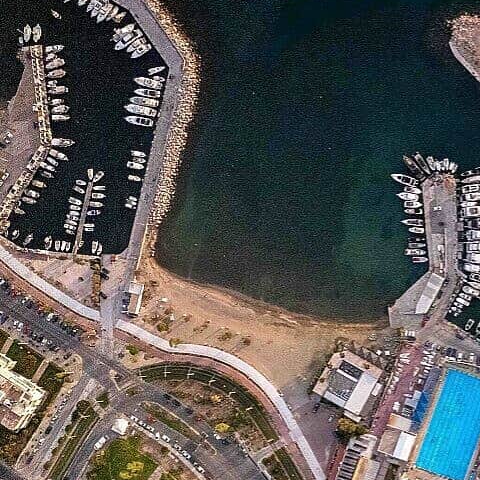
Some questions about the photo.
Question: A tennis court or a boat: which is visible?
boat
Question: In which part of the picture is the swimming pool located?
bottom right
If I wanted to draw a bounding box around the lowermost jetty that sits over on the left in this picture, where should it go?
[72,181,93,255]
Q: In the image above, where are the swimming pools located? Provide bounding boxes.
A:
[400,360,480,480]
